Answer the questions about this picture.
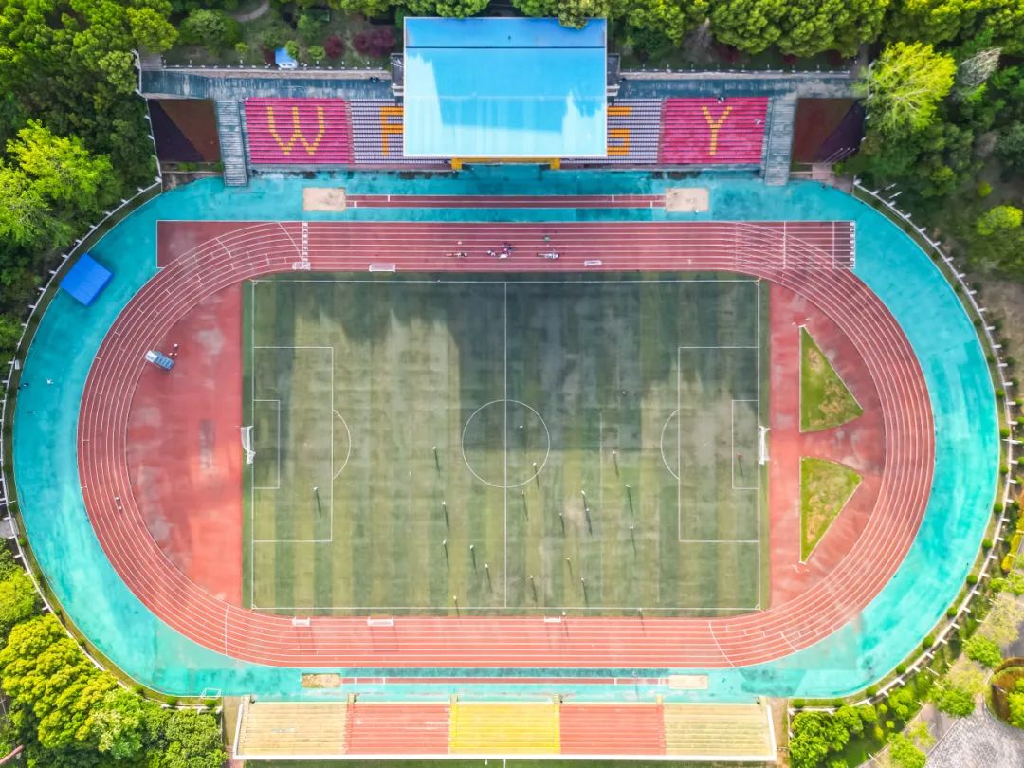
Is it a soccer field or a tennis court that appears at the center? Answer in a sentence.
Visible at the center is a soccer field.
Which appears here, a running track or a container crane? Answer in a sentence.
It is a running track that can be seen here.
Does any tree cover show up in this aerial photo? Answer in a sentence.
Yes, tree cover shows up in the scene.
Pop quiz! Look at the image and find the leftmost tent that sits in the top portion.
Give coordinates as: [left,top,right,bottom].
[61,253,120,306]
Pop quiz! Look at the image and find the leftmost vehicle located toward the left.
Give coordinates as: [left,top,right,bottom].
[142,348,175,371]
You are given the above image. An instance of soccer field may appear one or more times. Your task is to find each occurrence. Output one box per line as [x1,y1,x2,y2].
[242,271,769,618]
